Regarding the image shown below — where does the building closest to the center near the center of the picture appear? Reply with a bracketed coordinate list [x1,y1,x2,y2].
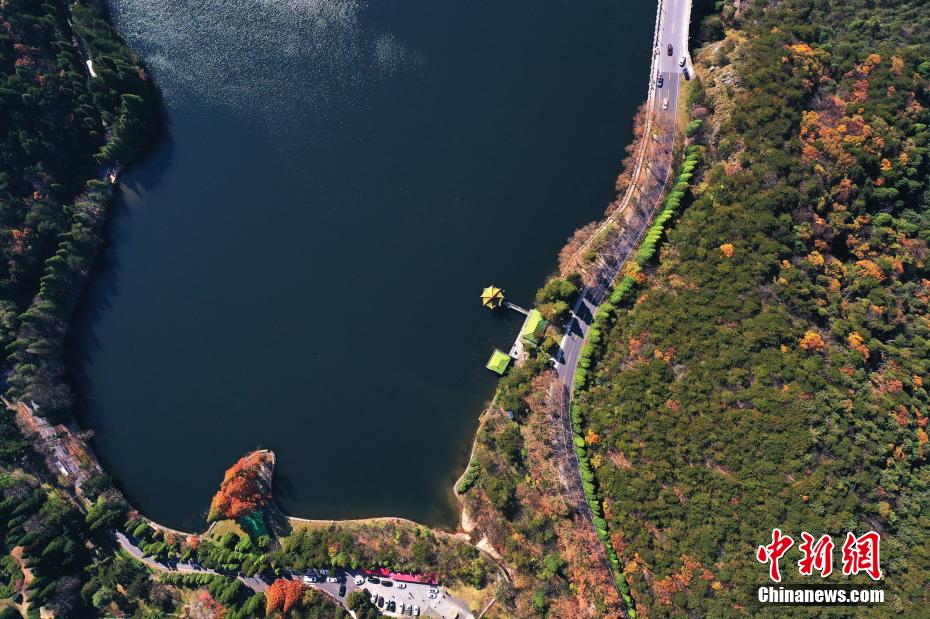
[480,285,505,309]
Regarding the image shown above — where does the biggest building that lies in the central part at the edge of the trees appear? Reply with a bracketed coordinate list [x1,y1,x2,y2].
[520,310,549,345]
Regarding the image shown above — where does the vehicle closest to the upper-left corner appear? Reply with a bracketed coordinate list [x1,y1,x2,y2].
[87,61,103,81]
